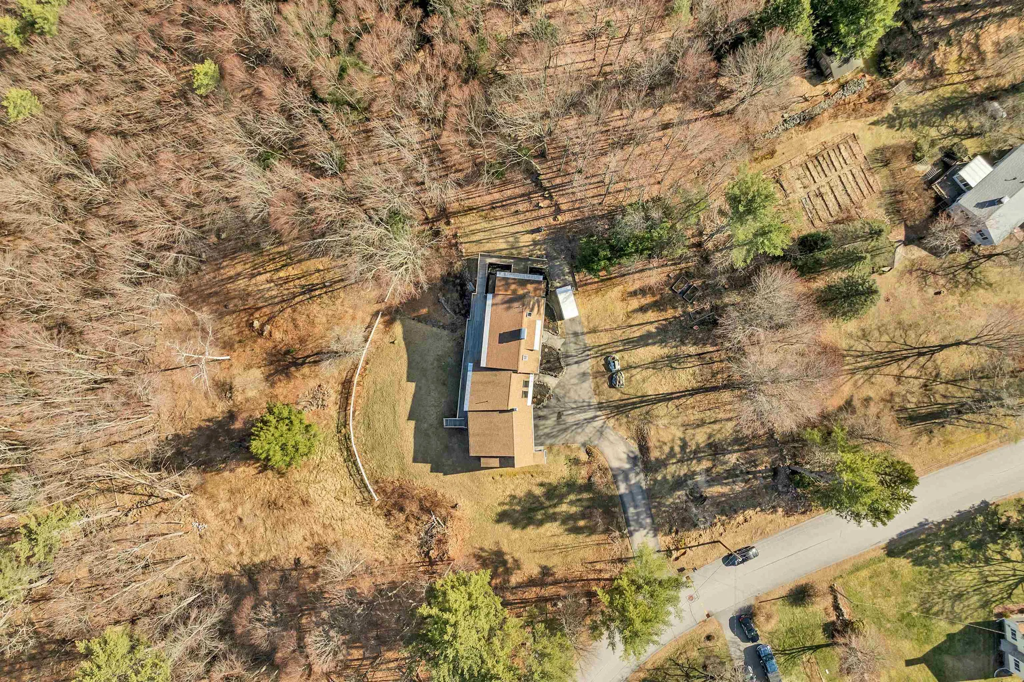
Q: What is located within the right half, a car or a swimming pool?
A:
car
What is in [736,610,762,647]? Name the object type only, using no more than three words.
car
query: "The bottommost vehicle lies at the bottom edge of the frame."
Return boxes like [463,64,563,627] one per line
[758,647,785,682]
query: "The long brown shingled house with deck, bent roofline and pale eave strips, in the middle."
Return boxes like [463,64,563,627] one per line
[463,272,547,468]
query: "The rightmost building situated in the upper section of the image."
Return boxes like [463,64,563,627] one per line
[942,138,1024,248]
